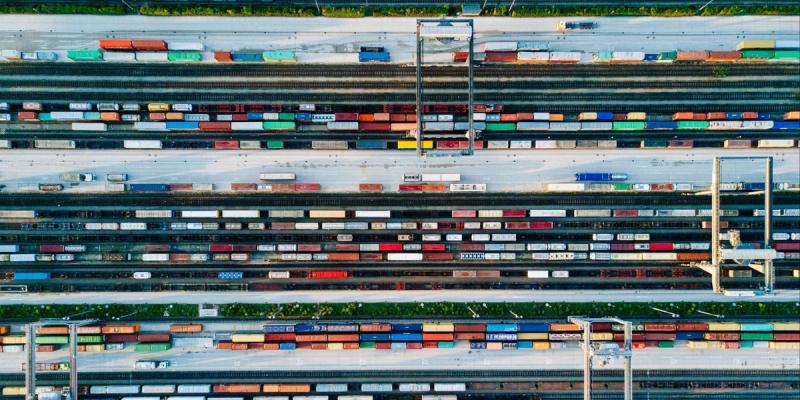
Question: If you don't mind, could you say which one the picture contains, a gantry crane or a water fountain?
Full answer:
Looking from above, you can make out a gantry crane.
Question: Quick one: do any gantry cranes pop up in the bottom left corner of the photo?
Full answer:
Yes, I can see a gantry crane in the bottom left corner of the photo.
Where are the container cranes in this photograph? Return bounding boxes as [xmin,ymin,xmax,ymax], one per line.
[561,318,631,400]
[27,318,115,400]
[409,17,476,159]
[676,157,784,296]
